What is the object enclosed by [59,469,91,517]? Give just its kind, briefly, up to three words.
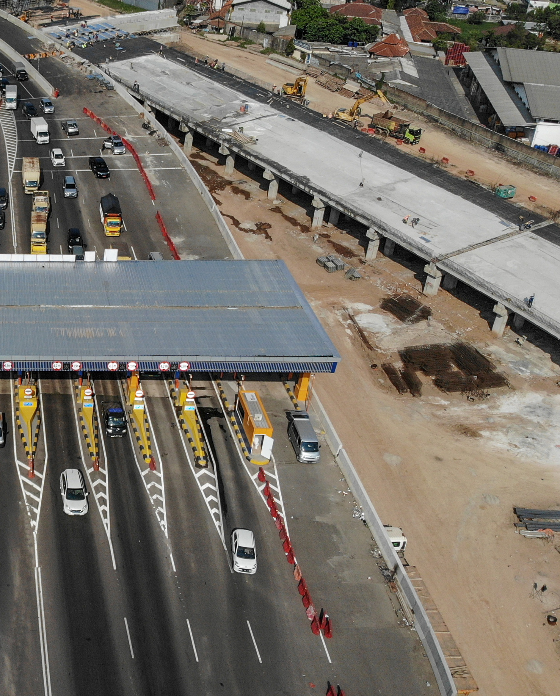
car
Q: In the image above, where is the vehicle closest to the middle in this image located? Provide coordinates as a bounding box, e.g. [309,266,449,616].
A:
[288,410,322,461]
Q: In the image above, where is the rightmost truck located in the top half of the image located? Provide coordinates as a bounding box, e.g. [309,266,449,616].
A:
[373,109,430,143]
